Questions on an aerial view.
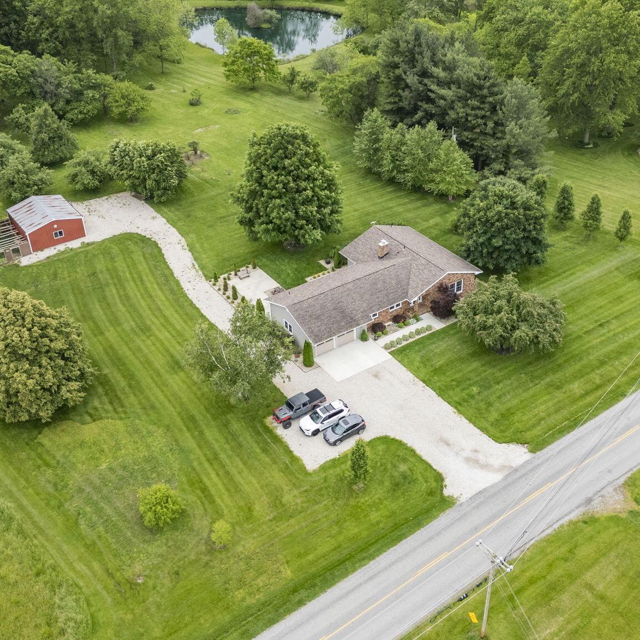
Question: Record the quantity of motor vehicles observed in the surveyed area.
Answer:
three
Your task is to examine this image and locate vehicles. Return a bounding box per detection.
[271,390,326,428]
[296,399,347,437]
[321,412,367,446]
